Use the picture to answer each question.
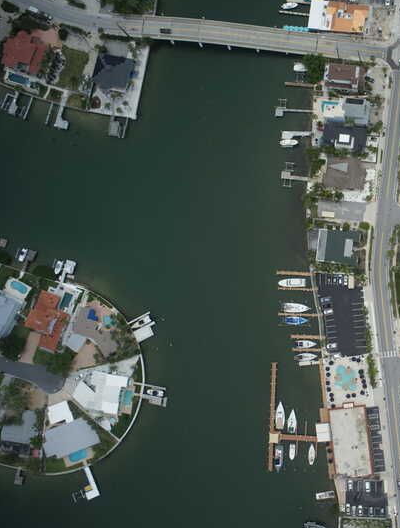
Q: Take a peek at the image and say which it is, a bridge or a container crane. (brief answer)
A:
bridge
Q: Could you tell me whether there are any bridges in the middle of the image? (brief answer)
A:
No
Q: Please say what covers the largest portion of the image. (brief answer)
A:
water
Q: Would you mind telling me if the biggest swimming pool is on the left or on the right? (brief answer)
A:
right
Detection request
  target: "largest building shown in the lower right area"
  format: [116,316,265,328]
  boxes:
[329,403,372,477]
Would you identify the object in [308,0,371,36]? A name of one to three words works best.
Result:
building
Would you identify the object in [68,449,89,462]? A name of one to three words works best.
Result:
swimming pool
